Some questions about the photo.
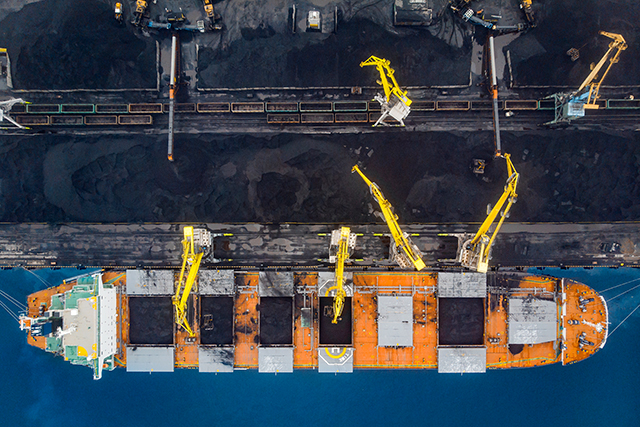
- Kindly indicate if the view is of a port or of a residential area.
port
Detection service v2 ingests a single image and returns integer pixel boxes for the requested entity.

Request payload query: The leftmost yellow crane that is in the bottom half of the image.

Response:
[172,227,232,338]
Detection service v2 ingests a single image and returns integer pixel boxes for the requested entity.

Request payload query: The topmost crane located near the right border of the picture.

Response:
[539,30,628,125]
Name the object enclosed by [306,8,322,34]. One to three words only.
work vehicle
